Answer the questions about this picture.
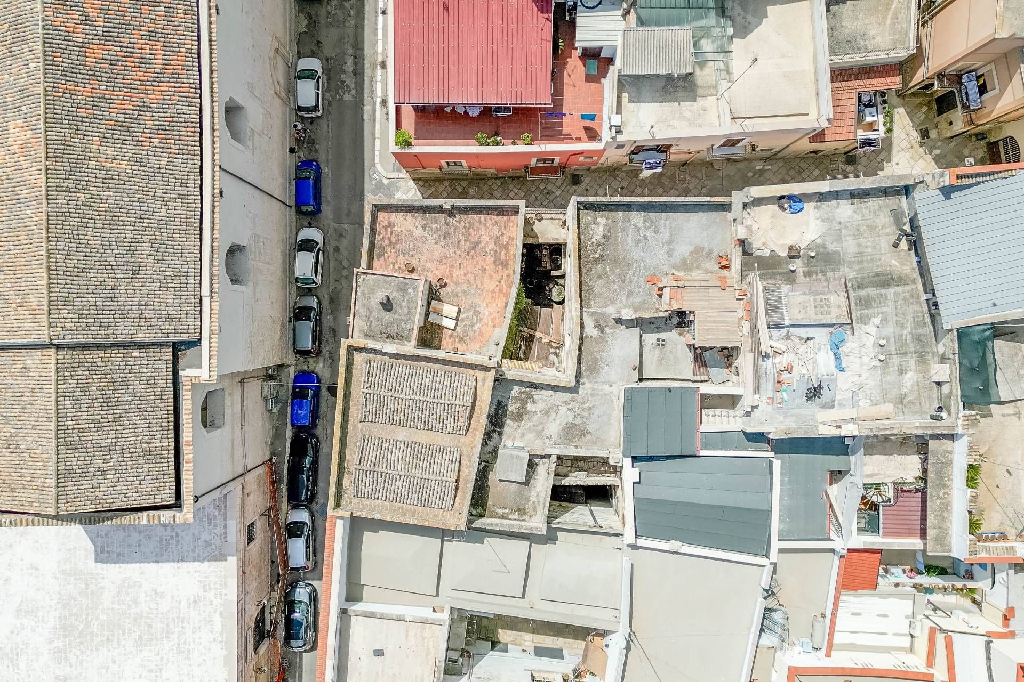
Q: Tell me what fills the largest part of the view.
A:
buildings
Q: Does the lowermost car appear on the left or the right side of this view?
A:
left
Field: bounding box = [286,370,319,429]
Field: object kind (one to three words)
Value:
car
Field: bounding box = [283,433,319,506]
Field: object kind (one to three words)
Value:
car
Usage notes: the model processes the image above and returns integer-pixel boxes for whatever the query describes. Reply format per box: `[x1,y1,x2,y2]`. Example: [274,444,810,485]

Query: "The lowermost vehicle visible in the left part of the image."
[281,580,316,654]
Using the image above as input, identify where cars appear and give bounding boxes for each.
[285,506,316,572]
[283,433,319,506]
[286,370,319,429]
[291,159,323,216]
[289,295,323,358]
[281,580,316,654]
[291,58,324,118]
[290,227,324,289]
